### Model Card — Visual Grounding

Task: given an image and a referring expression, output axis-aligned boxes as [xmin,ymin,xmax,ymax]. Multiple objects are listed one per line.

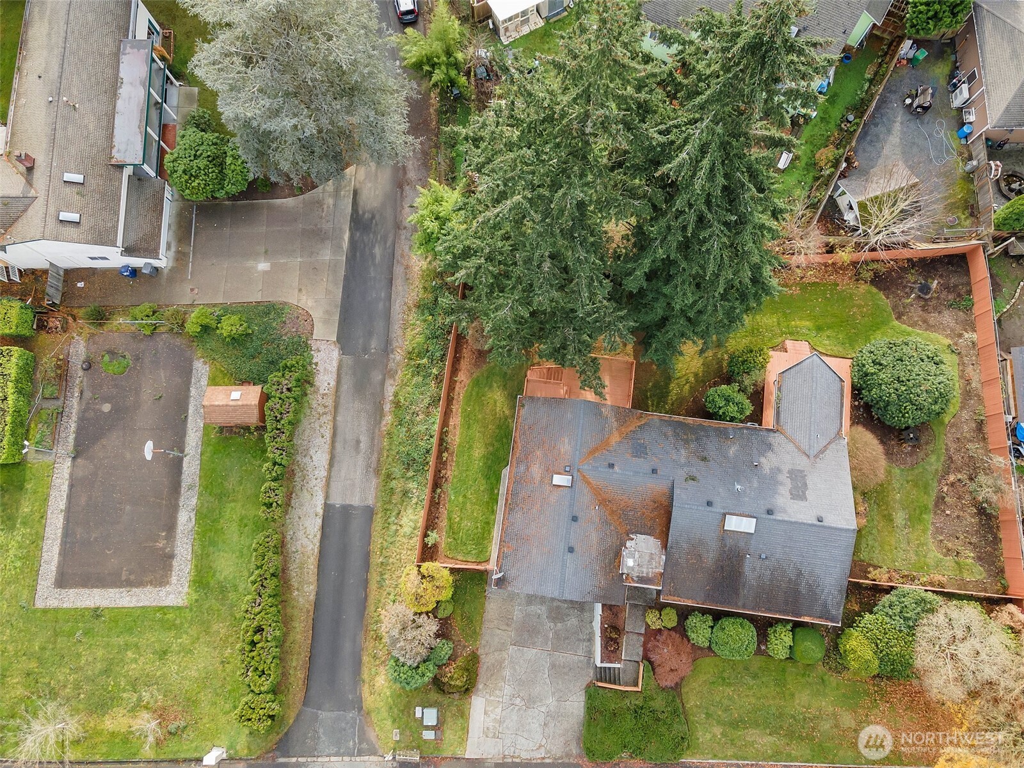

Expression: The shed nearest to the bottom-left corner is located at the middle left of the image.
[202,380,270,426]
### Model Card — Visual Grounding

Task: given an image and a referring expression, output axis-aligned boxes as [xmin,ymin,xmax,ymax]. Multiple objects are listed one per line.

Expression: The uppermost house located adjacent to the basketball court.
[0,0,178,269]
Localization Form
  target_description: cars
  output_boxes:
[397,0,421,22]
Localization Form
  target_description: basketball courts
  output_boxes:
[54,332,192,589]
